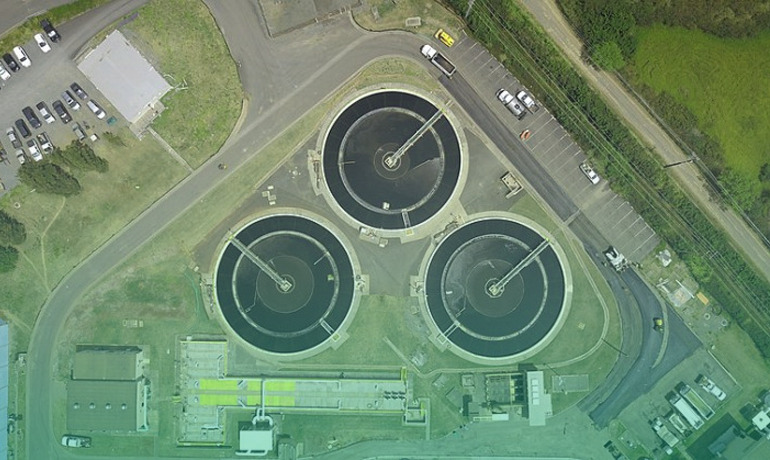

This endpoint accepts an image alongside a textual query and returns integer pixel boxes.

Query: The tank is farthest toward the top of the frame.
[314,83,469,247]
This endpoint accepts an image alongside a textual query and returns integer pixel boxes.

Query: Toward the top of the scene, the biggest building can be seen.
[78,30,171,123]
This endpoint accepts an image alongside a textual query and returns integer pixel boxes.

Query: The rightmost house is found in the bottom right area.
[730,391,770,437]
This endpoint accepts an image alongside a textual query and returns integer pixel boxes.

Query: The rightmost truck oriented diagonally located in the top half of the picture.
[578,161,599,183]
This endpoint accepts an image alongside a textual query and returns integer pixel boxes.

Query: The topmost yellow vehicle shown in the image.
[435,31,452,47]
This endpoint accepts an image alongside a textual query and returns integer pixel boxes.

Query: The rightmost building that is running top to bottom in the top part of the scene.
[308,150,326,196]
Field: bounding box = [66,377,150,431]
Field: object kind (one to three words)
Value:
building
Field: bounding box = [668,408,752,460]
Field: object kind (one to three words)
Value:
house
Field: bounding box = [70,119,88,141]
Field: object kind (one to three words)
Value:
vehicle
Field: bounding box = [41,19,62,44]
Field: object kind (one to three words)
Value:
truck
